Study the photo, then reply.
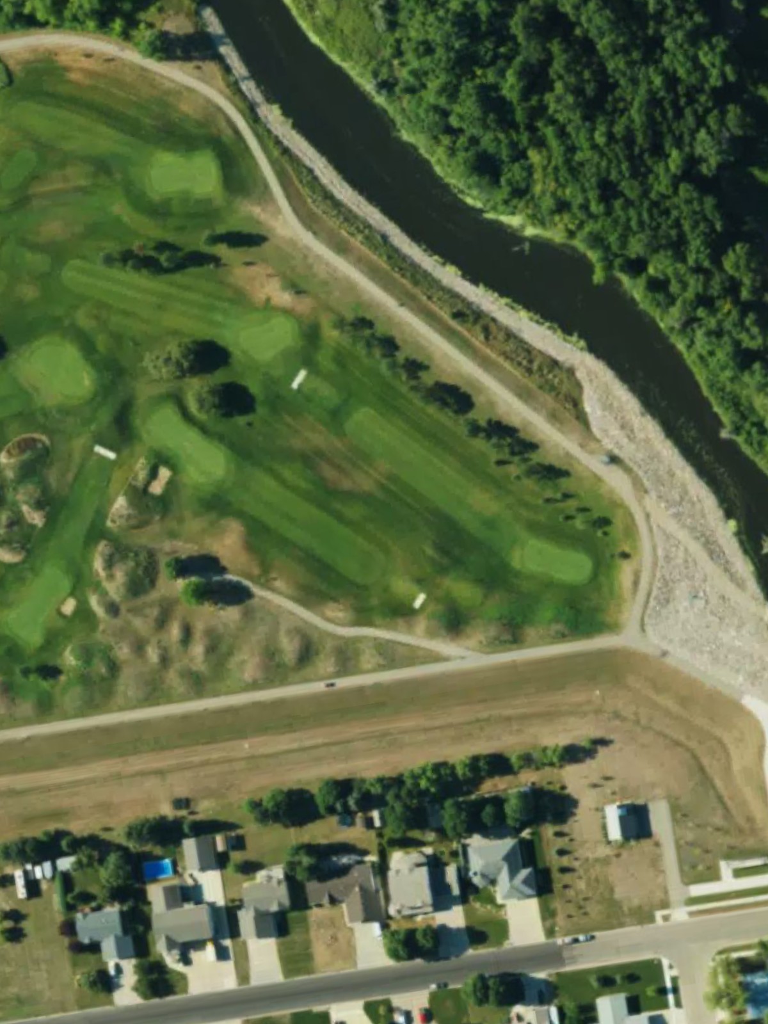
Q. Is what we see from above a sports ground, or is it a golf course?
golf course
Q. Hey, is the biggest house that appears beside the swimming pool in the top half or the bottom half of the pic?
bottom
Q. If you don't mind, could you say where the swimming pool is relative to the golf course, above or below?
below it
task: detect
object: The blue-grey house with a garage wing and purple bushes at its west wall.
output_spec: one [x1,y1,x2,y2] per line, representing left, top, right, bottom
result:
[76,910,135,963]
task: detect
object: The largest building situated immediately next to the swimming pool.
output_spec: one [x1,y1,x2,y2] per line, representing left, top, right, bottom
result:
[146,881,215,955]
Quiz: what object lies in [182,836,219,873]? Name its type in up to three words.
building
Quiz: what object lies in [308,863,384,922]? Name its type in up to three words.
house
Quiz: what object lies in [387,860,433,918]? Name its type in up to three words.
house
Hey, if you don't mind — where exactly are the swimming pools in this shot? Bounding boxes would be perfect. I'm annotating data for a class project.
[143,858,173,880]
